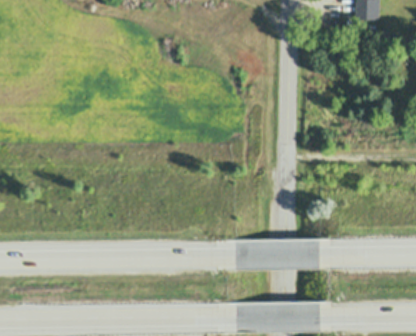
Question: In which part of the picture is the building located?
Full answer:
The building sits in the top right section of the image.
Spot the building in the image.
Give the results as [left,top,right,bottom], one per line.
[356,0,380,20]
